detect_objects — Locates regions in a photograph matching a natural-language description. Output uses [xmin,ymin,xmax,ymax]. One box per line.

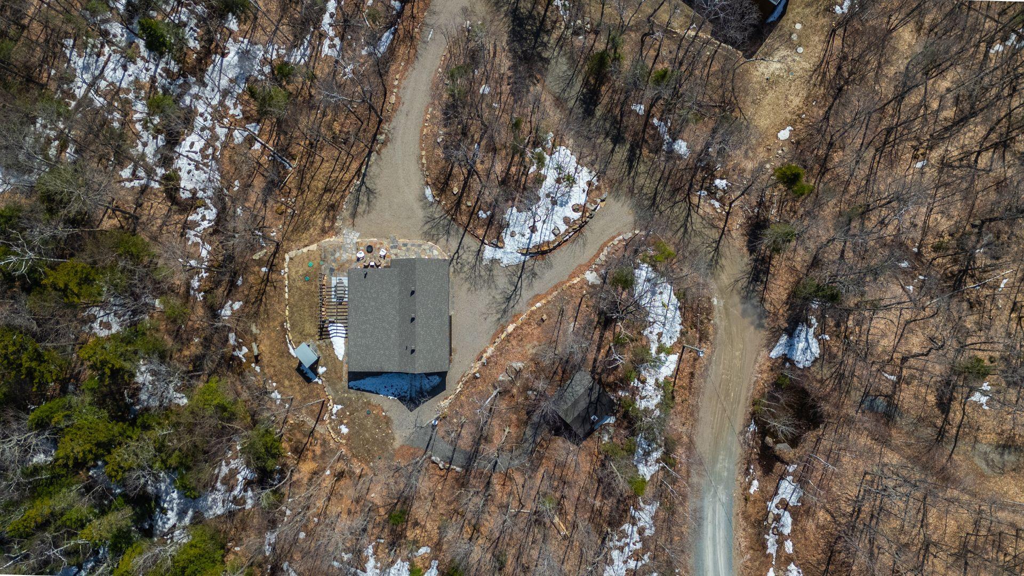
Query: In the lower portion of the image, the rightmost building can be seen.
[546,370,614,436]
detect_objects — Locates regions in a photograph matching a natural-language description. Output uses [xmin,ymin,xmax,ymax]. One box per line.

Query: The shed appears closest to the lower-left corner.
[294,342,323,367]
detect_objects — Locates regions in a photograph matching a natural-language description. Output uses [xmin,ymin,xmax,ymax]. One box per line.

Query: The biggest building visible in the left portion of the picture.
[347,257,450,377]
